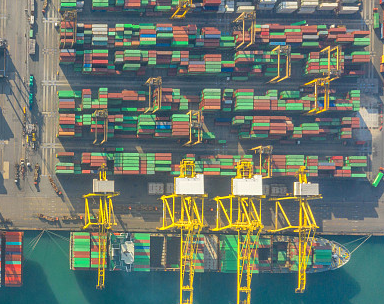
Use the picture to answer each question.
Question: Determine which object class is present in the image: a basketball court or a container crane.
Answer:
container crane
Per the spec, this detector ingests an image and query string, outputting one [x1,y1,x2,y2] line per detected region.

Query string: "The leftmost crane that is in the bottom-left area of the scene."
[76,164,116,290]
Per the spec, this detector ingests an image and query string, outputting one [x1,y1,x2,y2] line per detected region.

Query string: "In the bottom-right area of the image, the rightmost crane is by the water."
[263,171,322,294]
